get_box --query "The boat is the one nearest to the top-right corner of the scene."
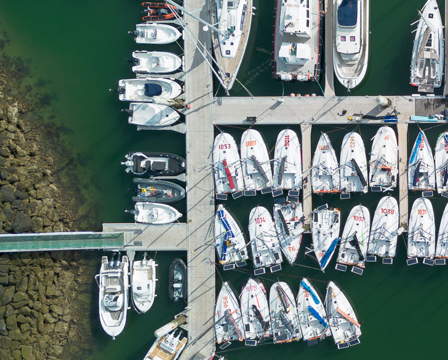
[410,0,446,91]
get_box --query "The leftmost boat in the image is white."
[96,248,132,339]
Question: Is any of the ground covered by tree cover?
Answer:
No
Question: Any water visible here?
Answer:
Yes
